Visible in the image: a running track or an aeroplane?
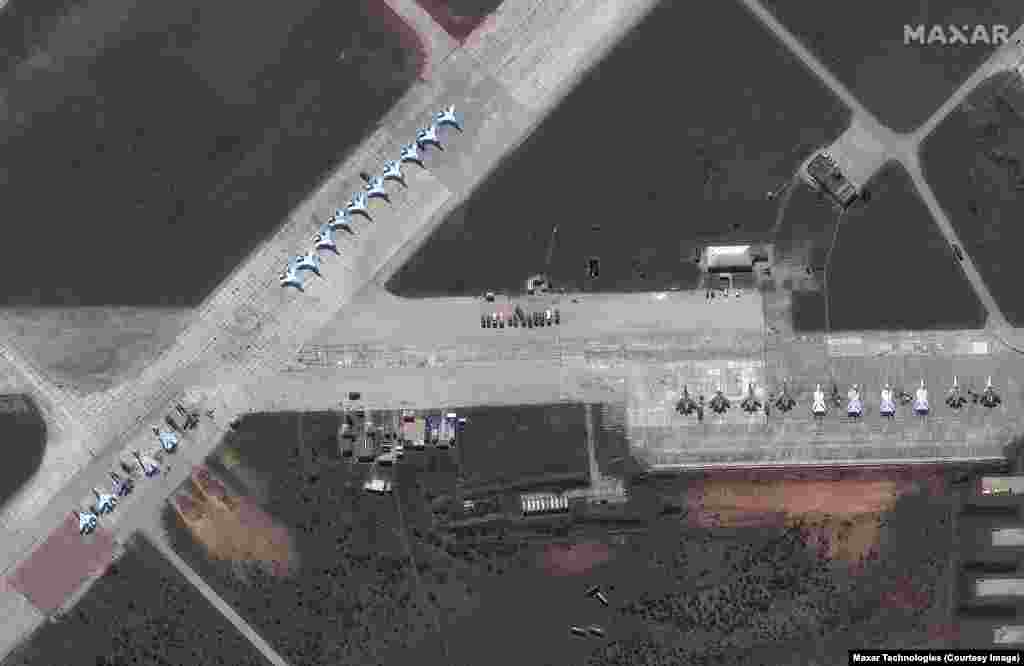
aeroplane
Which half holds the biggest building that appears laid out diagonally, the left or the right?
right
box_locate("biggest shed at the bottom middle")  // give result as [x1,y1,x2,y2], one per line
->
[521,495,568,512]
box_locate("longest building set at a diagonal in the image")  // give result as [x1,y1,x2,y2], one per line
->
[807,155,858,207]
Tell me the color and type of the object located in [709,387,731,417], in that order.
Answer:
gray airplane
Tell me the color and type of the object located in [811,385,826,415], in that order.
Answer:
white airplane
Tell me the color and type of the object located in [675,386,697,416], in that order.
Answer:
gray airplane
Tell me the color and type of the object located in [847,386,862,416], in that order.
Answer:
white airplane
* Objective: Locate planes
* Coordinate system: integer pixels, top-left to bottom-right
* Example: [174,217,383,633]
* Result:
[675,386,697,416]
[914,381,930,414]
[979,377,1001,408]
[416,125,444,147]
[946,379,967,409]
[775,386,797,416]
[361,176,389,198]
[434,105,462,128]
[847,386,862,416]
[378,160,407,183]
[295,249,323,274]
[343,191,371,215]
[137,453,161,480]
[879,382,895,415]
[326,205,354,231]
[396,142,425,166]
[709,387,731,417]
[156,425,179,452]
[811,385,826,415]
[313,226,340,251]
[740,385,762,416]
[108,472,131,499]
[77,509,101,535]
